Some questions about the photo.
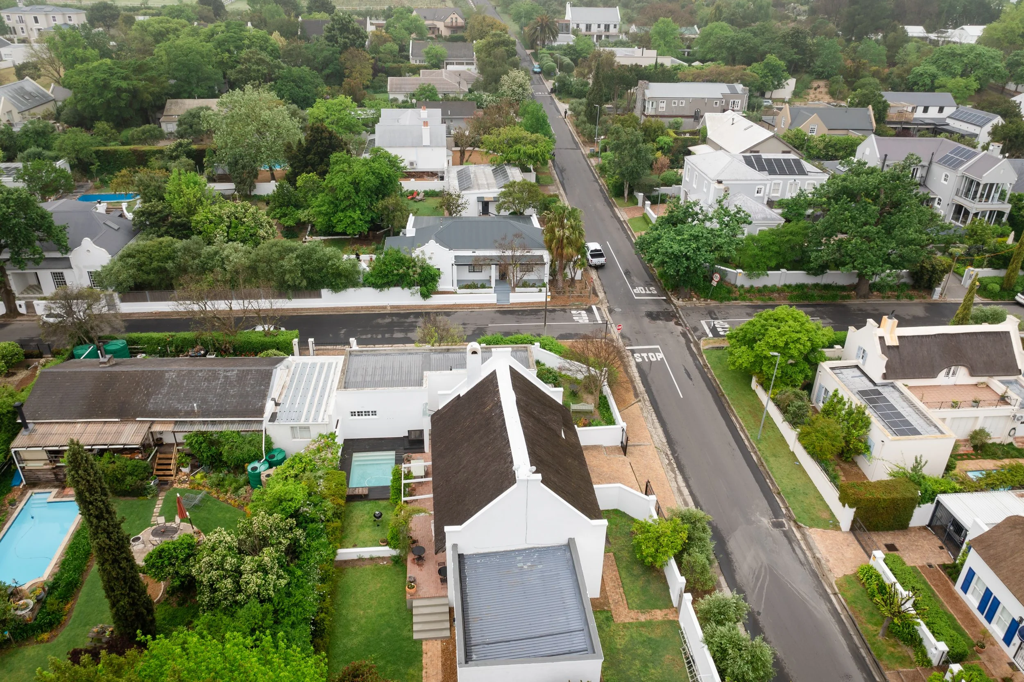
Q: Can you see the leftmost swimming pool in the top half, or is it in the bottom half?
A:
bottom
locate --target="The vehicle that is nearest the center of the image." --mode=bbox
[582,238,607,263]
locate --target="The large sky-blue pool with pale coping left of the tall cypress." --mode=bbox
[0,488,70,597]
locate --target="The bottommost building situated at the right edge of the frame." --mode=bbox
[955,531,1024,671]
